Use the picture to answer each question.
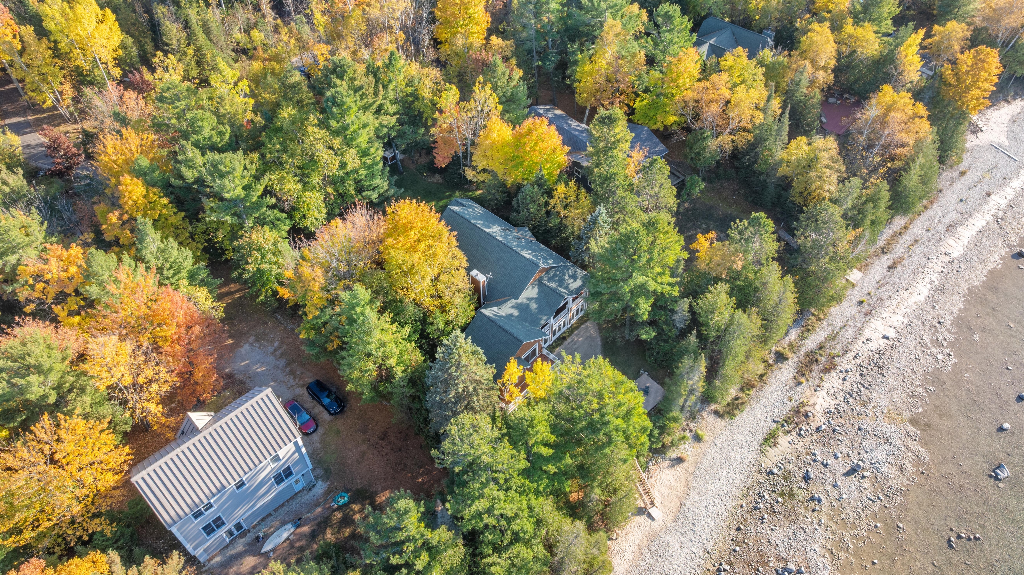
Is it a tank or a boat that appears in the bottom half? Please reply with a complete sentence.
What appears in the bottom half is a boat.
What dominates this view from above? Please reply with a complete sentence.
The bulk of the photo consists of trees.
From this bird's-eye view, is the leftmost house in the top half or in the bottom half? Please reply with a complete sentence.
You can find the leftmost house in the bottom half.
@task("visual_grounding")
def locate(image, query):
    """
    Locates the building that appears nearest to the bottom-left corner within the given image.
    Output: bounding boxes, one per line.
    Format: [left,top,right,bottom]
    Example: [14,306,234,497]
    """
[129,385,313,562]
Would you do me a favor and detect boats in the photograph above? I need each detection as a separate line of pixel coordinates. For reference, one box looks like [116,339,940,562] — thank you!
[261,514,304,555]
